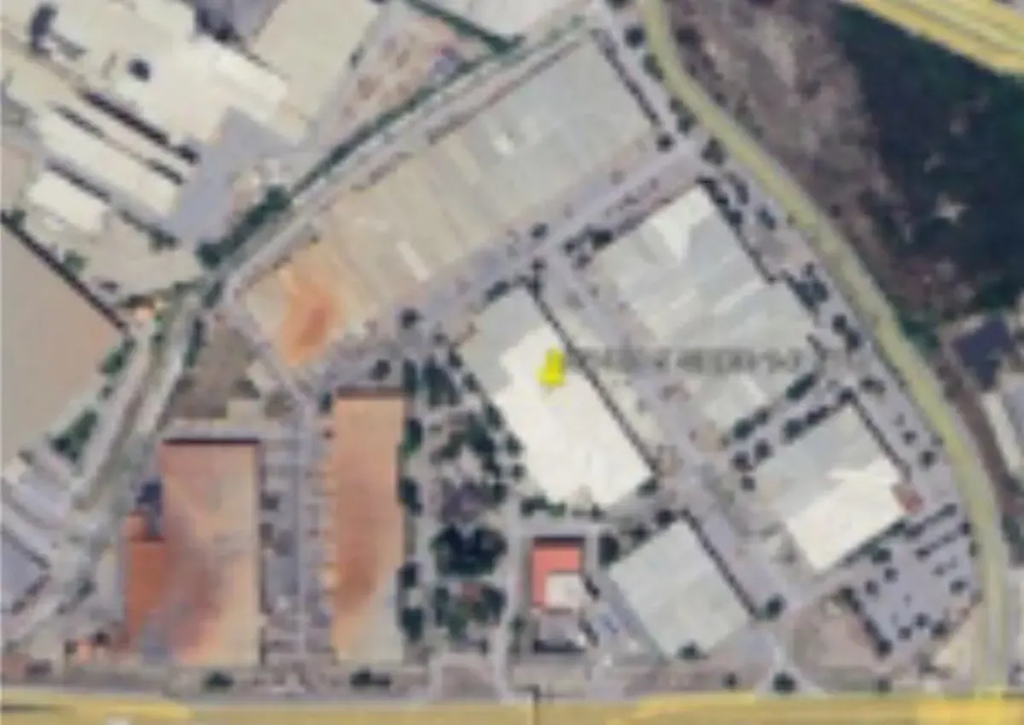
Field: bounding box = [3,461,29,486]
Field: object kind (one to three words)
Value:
house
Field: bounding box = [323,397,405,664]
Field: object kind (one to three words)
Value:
building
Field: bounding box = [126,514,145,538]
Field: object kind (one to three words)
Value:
shed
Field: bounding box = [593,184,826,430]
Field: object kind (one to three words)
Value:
warehouse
